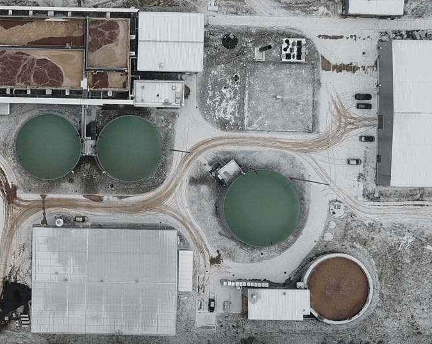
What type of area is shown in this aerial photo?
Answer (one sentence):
The area seen from above is an industrial area.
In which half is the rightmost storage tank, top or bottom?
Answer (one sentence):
It is in the bottom half that the rightmost storage tank appears.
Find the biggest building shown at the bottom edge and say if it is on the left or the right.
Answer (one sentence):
It is on the left.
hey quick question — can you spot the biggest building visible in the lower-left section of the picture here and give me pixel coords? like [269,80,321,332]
[31,226,177,336]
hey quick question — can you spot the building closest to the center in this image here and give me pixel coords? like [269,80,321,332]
[217,160,243,183]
